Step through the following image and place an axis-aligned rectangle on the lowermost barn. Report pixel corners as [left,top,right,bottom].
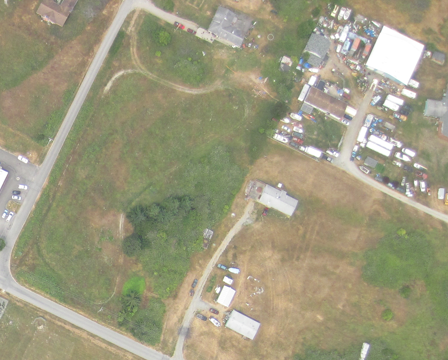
[224,310,260,340]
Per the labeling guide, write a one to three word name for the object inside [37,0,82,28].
house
